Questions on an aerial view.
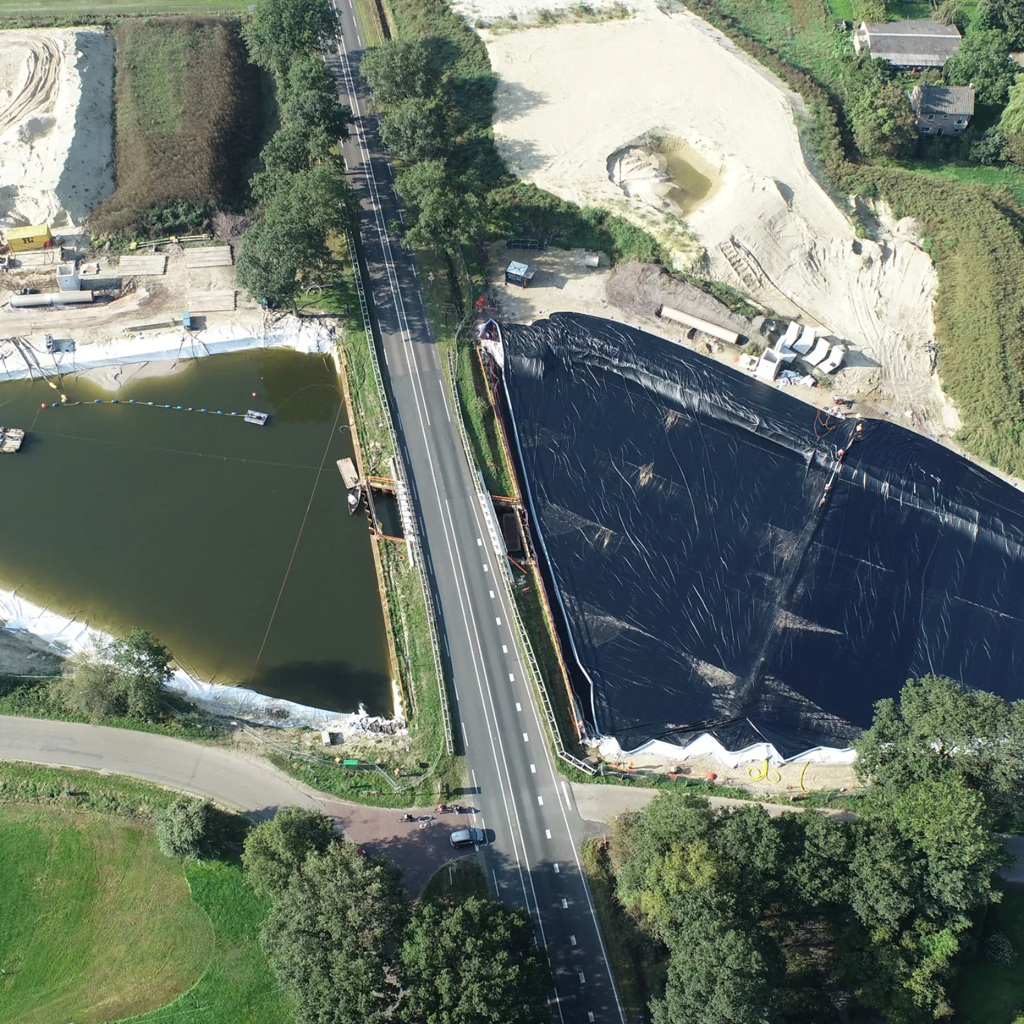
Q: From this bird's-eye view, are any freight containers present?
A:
Yes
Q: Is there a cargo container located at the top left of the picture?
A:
Yes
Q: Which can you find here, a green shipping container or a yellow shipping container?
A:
yellow shipping container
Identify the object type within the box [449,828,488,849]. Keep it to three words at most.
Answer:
car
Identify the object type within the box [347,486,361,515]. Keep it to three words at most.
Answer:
boat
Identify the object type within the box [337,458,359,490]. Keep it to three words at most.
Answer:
ship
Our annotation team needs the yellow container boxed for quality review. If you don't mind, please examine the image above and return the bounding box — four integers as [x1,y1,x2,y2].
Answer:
[2,222,49,250]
